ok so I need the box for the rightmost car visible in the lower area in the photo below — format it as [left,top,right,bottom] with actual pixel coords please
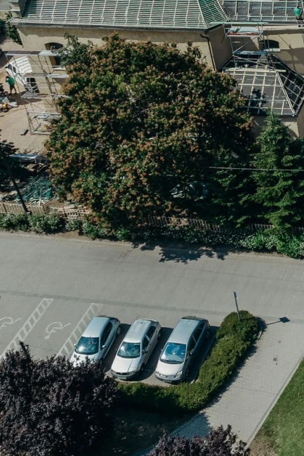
[155,315,211,384]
